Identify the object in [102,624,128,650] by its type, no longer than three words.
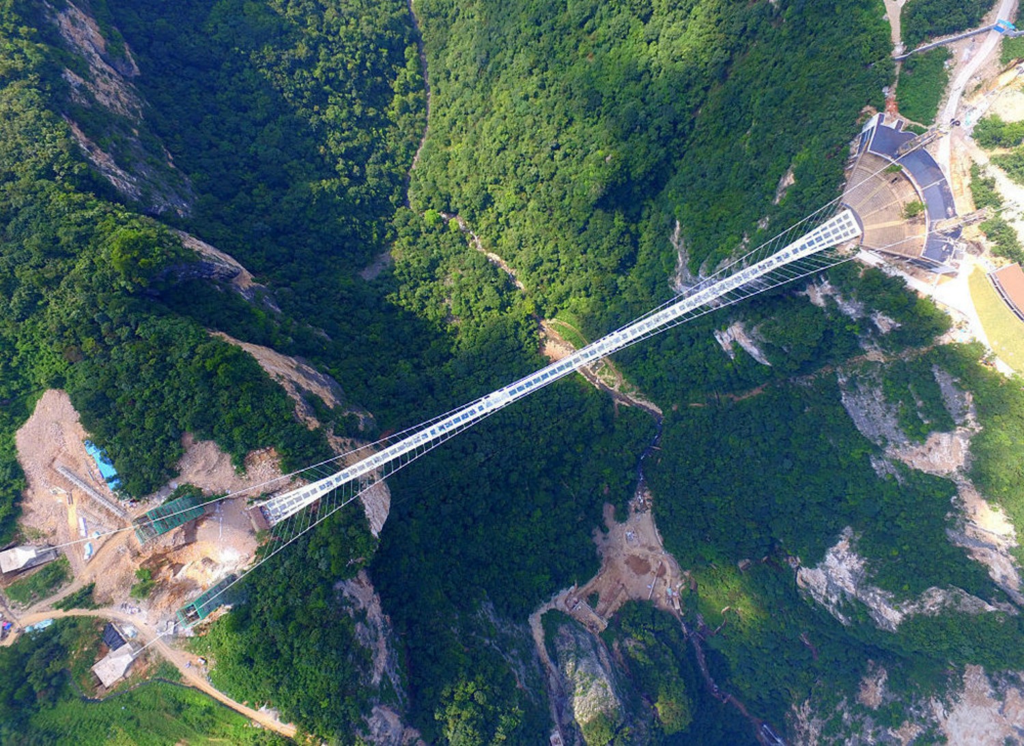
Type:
shed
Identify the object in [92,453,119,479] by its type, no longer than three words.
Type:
shed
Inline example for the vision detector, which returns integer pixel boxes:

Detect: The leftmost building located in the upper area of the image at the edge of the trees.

[834,112,955,277]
